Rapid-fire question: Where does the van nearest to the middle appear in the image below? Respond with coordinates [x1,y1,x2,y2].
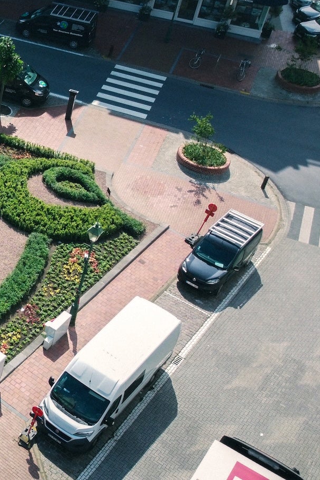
[182,214,265,301]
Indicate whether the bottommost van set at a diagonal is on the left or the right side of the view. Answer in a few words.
left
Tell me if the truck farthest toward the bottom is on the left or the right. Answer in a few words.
right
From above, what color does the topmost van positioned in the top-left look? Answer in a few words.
black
